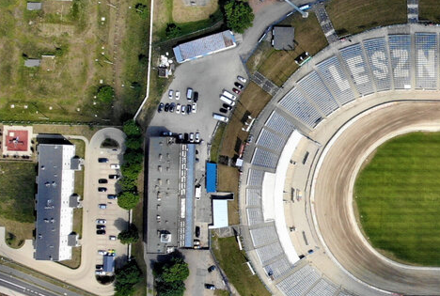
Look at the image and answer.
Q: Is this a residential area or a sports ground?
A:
sports ground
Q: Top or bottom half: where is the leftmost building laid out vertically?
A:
bottom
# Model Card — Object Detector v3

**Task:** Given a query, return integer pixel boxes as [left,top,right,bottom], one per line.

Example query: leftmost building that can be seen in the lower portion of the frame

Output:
[33,144,84,261]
